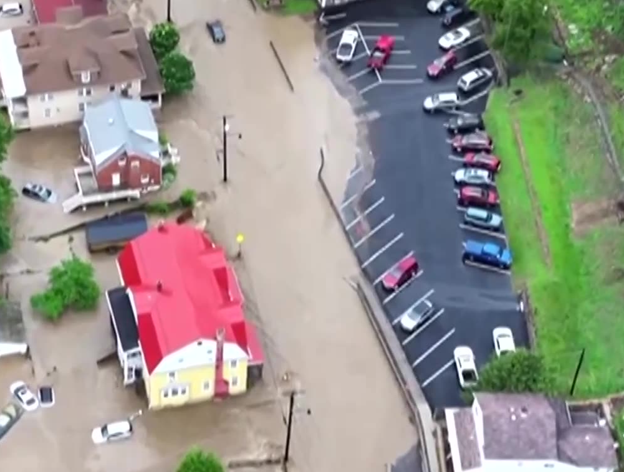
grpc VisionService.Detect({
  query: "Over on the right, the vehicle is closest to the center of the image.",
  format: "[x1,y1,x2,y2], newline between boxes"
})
[382,256,420,289]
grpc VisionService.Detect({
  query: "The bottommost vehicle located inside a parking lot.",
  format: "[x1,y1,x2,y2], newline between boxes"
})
[452,345,480,391]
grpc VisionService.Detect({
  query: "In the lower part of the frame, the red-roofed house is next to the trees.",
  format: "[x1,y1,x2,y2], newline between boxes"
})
[105,221,269,408]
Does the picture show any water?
Yes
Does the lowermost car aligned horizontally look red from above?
No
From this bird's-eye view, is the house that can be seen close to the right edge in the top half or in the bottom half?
bottom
